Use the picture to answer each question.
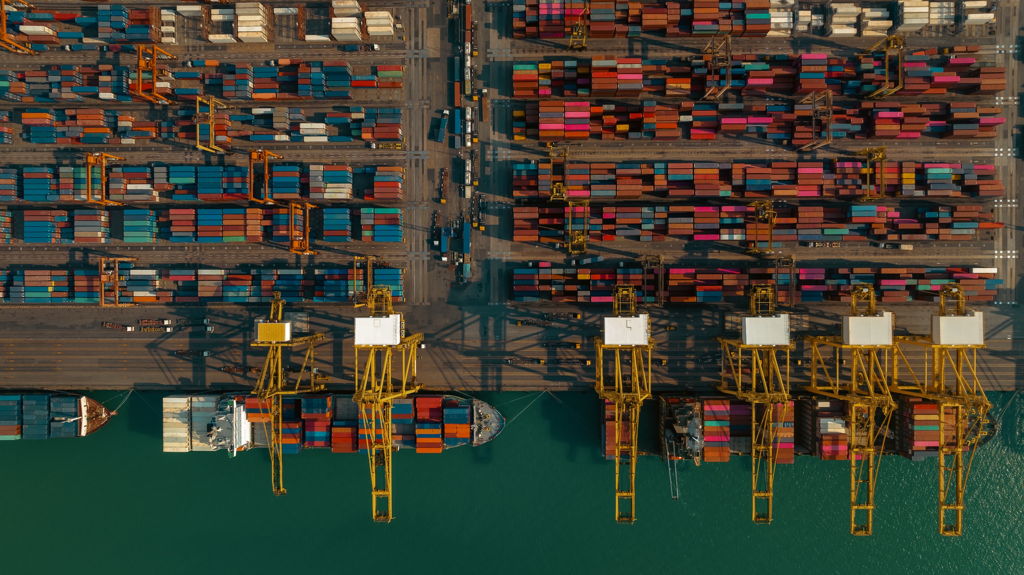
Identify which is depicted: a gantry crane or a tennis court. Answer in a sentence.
The image shows a gantry crane.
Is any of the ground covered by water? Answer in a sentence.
Yes, there is water in the image.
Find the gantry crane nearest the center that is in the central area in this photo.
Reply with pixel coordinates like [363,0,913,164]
[564,202,590,254]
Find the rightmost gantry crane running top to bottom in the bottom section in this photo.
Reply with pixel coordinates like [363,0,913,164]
[866,279,996,538]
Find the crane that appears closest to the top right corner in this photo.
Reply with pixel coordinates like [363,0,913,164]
[861,37,906,99]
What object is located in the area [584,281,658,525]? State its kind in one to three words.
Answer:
container crane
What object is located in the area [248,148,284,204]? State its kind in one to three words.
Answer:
container crane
